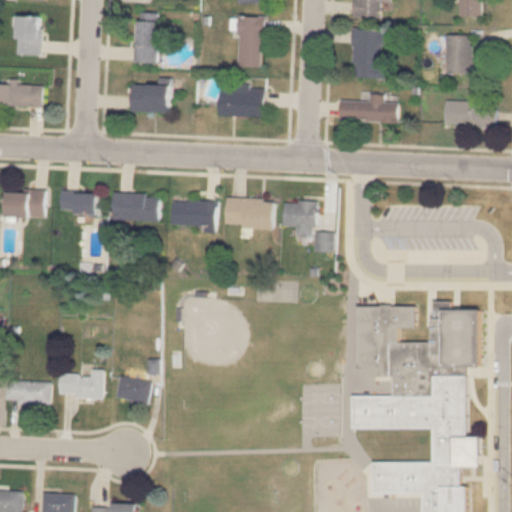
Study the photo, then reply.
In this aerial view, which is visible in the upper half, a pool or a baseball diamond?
pool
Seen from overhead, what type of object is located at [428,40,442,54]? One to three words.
swimming pool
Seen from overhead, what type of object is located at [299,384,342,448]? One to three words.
basketball court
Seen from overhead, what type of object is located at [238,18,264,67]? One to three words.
house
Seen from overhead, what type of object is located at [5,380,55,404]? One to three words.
house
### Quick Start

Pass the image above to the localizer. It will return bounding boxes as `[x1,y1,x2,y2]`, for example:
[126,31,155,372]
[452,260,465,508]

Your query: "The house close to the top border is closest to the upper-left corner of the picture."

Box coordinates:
[13,16,44,56]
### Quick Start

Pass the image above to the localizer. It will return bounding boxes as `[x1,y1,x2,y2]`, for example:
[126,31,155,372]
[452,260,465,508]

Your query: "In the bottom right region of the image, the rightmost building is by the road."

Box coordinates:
[352,300,482,512]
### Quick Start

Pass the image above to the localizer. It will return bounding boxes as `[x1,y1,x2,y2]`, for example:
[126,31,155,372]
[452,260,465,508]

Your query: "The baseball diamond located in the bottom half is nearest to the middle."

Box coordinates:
[182,296,250,366]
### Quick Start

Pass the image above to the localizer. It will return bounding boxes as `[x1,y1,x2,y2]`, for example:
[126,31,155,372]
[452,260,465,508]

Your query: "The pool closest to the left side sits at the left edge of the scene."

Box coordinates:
[3,228,16,253]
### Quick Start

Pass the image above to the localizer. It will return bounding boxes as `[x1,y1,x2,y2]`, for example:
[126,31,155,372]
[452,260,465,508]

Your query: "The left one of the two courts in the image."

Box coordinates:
[257,281,298,303]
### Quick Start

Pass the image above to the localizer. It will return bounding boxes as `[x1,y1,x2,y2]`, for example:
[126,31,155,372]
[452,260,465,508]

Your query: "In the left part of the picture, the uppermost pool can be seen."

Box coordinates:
[166,44,194,66]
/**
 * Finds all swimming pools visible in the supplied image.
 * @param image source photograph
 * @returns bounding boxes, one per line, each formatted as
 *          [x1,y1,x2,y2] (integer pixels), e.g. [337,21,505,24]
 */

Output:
[90,233,102,257]
[204,78,220,100]
[428,40,442,54]
[3,228,16,253]
[166,44,194,66]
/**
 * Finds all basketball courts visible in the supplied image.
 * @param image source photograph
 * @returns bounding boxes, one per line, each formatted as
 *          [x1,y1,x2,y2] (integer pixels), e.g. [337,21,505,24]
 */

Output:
[299,384,342,448]
[257,281,298,303]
